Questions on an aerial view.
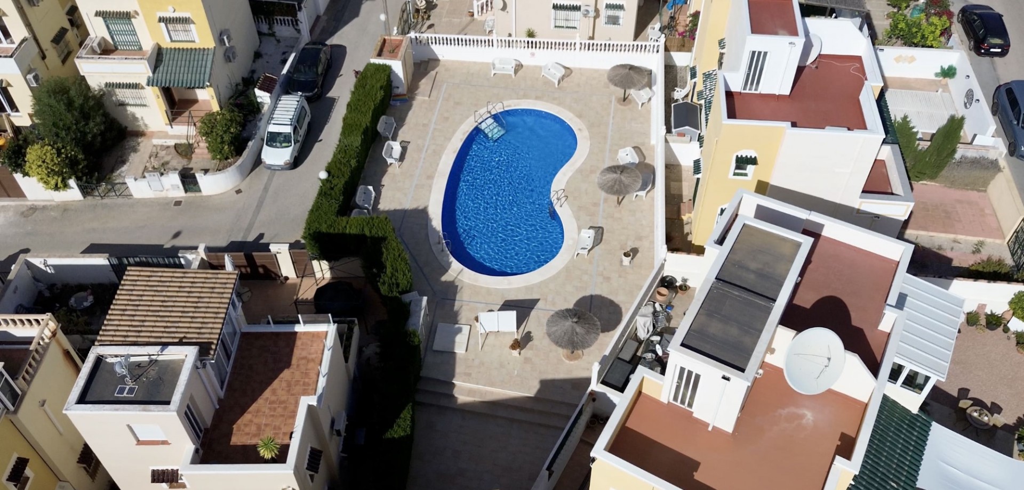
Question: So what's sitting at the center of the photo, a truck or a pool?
pool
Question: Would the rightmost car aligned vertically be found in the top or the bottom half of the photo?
top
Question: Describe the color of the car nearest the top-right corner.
black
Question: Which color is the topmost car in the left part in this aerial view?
black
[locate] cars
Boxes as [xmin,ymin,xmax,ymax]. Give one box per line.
[991,90,1024,161]
[953,9,1015,59]
[257,89,303,168]
[282,39,326,95]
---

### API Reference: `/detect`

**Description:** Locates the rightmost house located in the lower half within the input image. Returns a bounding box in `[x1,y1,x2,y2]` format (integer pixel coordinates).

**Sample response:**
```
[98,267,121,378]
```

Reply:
[586,187,970,490]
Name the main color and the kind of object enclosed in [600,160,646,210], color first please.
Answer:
gray umbrella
